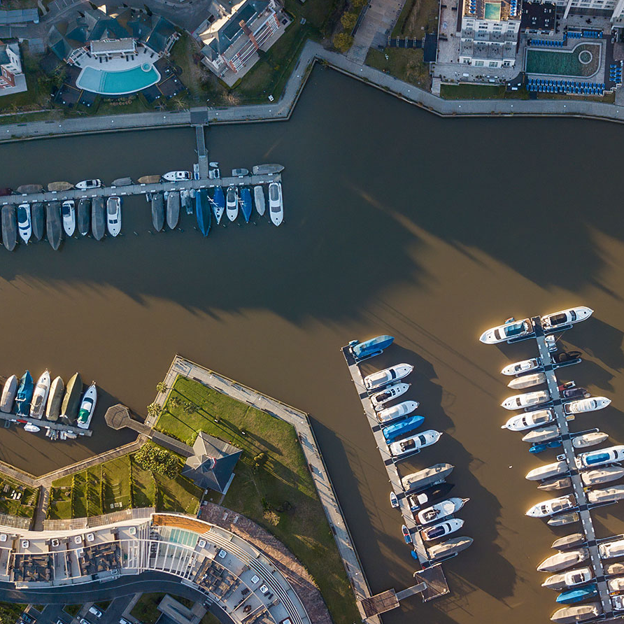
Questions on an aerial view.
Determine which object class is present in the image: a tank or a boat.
boat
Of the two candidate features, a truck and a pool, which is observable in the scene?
pool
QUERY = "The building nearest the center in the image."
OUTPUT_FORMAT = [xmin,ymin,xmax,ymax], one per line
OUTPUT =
[181,433,243,497]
